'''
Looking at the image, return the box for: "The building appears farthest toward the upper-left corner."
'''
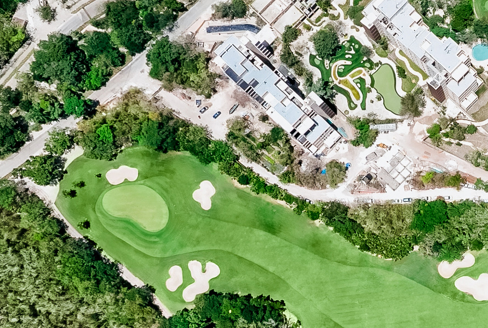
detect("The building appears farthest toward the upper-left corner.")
[11,3,36,27]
